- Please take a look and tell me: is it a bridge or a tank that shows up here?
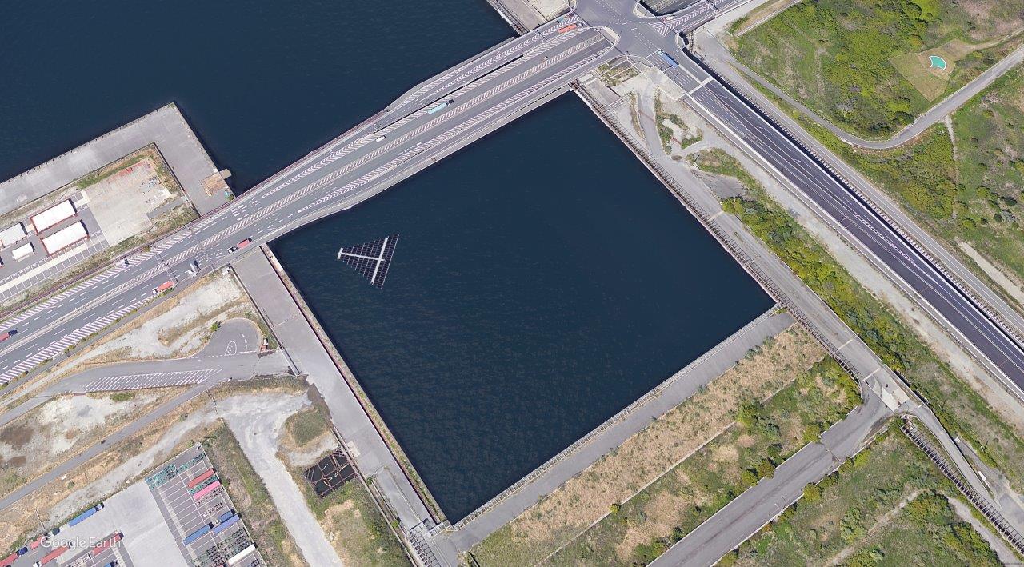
bridge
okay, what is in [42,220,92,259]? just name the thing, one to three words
building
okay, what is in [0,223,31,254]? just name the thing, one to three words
building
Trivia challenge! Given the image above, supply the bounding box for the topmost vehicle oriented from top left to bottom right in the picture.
[657,51,679,71]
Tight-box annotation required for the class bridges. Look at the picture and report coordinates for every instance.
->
[219,10,626,244]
